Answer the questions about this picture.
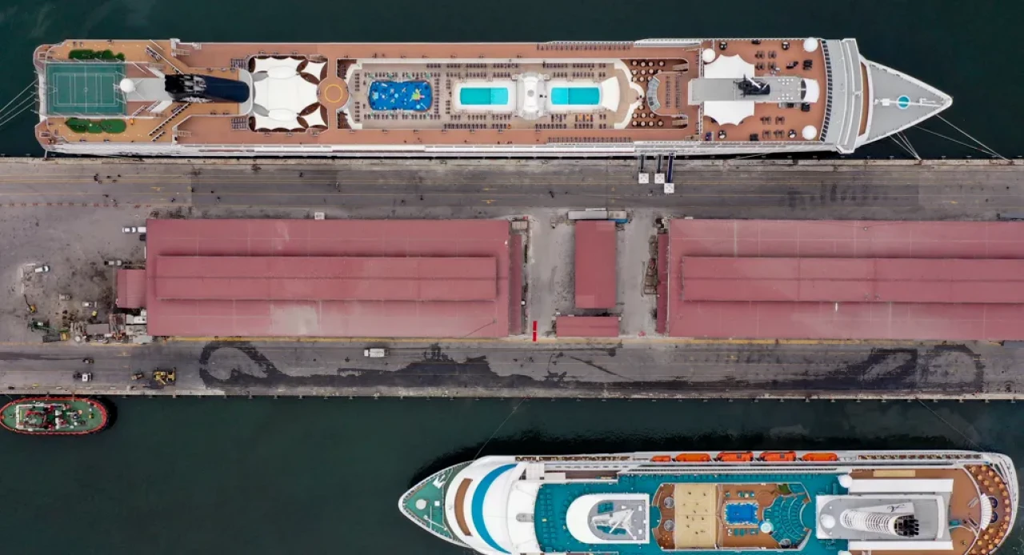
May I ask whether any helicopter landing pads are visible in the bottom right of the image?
No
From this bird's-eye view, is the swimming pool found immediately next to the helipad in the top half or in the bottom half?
top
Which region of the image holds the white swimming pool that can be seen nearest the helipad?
top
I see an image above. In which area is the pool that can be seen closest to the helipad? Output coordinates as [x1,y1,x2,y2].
[367,80,433,113]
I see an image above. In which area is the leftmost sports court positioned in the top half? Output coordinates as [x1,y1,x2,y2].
[33,56,126,115]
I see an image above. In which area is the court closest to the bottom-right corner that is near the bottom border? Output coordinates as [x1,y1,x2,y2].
[674,483,718,550]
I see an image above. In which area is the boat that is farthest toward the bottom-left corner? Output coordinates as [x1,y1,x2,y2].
[0,398,108,435]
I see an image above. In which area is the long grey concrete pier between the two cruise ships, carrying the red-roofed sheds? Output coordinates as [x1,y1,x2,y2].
[0,155,1024,400]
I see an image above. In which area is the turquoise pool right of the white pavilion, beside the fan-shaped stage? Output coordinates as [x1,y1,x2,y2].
[548,80,605,112]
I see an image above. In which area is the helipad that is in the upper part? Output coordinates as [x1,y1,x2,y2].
[318,78,351,110]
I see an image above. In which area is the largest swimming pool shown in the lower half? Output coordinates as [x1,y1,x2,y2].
[724,502,759,525]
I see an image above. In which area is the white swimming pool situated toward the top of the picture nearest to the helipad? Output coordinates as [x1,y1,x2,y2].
[453,80,516,112]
